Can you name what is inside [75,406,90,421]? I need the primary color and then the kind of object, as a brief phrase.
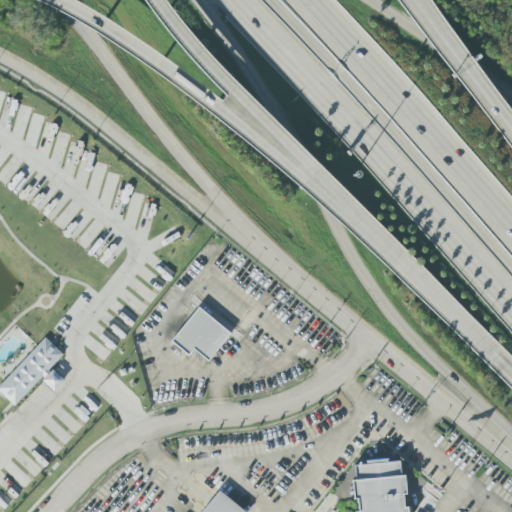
white camper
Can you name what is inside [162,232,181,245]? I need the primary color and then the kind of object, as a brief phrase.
white vehicle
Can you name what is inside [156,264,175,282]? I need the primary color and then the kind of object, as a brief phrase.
white camper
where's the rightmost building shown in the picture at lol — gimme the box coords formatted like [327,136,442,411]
[344,458,410,512]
